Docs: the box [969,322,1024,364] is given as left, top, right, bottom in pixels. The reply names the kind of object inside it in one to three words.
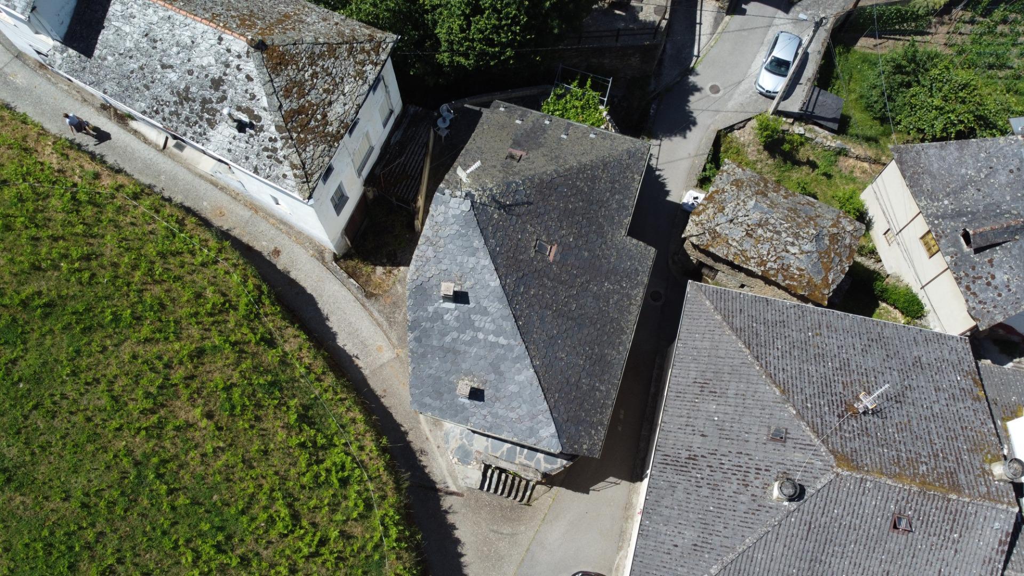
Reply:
shed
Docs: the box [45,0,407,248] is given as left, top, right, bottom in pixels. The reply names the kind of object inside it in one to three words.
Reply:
house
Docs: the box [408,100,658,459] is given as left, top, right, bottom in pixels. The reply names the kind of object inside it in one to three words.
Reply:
house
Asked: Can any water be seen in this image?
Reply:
No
